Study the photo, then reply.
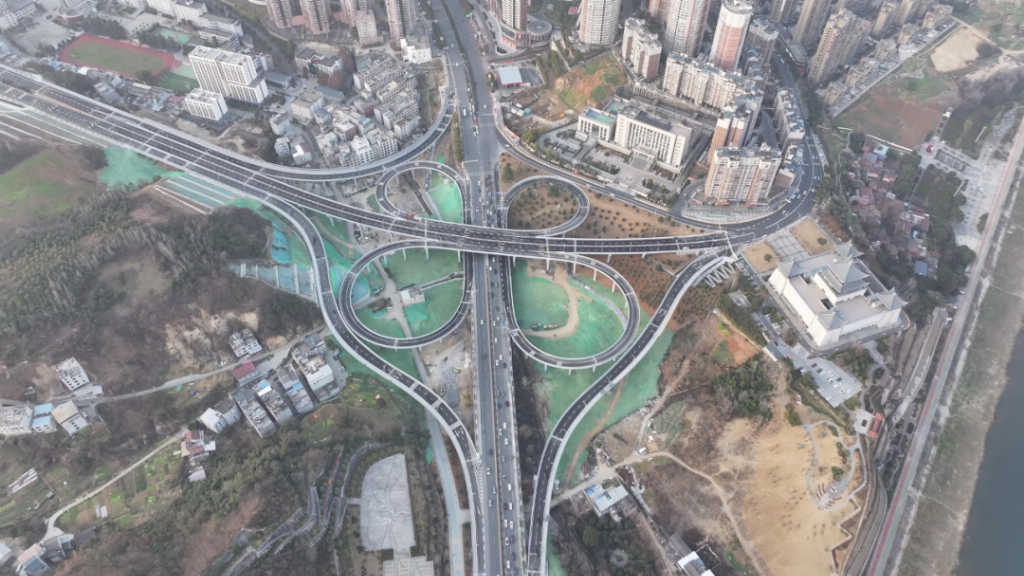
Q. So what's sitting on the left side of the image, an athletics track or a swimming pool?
athletics track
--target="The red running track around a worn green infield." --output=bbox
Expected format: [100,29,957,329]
[59,32,180,78]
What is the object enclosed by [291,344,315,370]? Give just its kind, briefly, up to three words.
house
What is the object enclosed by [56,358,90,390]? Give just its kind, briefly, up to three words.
house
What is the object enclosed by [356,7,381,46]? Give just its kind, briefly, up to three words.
building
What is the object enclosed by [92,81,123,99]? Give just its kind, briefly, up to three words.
shed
